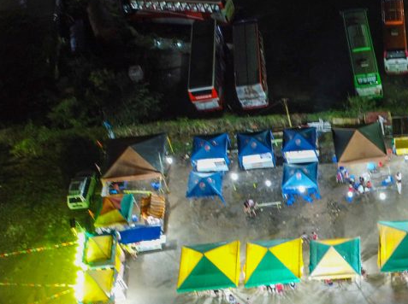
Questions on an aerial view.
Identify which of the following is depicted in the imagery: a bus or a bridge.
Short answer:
bus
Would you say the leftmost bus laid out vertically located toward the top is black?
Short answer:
Yes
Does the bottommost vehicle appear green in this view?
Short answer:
Yes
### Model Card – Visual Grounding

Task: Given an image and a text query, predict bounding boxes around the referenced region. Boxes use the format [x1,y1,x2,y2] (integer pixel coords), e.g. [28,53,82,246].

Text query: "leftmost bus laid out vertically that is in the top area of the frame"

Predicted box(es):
[187,19,223,112]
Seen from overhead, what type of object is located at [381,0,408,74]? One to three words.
bus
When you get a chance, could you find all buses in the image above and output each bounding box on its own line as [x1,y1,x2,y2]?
[381,0,408,74]
[234,20,267,110]
[187,19,223,112]
[123,0,236,26]
[343,10,382,98]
